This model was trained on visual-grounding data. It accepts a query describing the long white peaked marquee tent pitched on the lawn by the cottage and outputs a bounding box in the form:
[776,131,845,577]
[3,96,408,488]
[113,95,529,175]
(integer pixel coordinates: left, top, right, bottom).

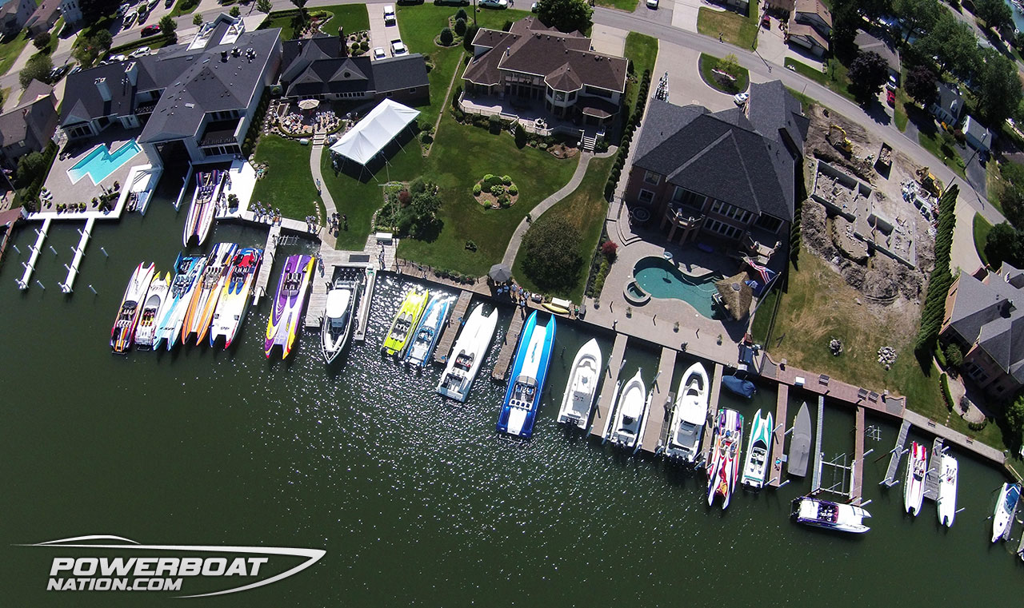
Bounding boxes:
[318,98,429,181]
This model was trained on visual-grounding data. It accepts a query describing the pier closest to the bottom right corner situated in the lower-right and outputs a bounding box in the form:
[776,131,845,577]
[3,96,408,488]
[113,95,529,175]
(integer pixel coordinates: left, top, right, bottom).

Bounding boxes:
[999,483,1024,541]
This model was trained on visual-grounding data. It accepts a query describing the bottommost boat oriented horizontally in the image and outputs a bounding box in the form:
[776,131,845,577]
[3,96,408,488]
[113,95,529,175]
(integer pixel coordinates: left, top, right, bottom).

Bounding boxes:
[787,496,870,535]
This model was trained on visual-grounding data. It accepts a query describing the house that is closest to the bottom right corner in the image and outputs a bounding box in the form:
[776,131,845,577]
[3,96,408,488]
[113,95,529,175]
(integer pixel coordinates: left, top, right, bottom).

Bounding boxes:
[939,262,1024,399]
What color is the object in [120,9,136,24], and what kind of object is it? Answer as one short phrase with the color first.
white car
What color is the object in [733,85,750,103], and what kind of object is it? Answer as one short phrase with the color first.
white car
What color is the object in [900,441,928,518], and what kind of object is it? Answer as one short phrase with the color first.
white boat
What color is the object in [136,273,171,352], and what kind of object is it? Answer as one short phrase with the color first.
white boat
